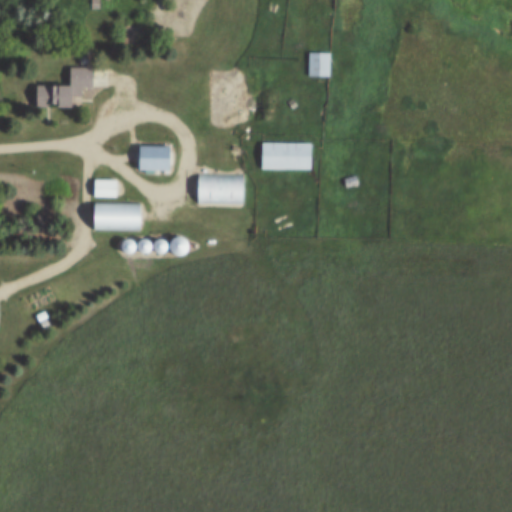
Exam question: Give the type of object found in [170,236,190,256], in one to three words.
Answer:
silo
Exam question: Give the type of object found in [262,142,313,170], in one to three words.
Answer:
shed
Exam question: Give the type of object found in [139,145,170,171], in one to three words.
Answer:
shed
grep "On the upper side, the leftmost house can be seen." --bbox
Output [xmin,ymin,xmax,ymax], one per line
[36,67,93,108]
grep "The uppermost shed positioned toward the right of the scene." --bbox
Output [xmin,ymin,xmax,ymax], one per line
[309,52,332,78]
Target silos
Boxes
[154,238,170,254]
[122,238,137,254]
[138,238,154,254]
[170,236,190,256]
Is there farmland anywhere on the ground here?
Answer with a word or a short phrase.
Yes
